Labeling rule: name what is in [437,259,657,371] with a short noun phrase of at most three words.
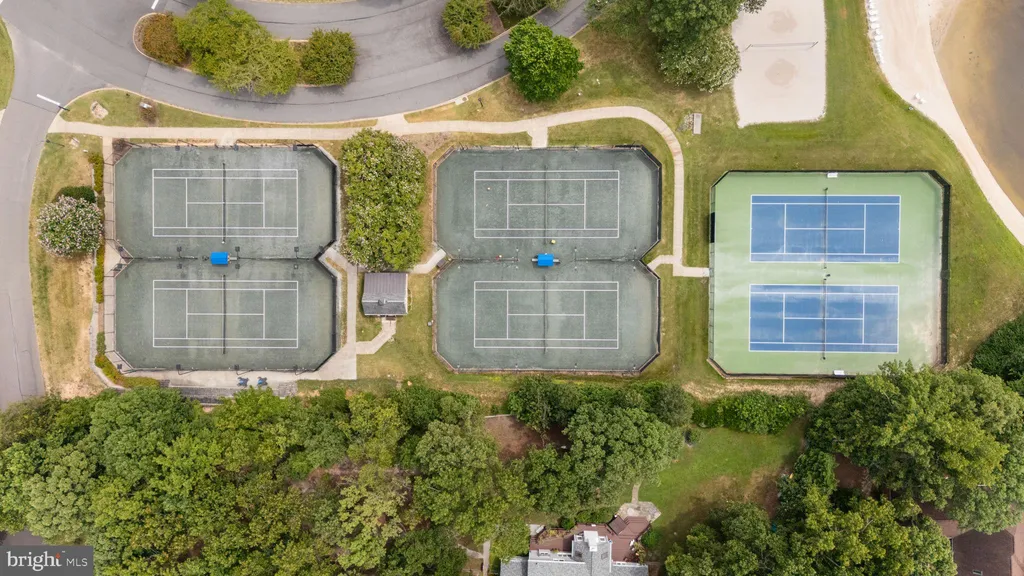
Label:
tennis court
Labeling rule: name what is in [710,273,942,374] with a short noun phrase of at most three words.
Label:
tennis court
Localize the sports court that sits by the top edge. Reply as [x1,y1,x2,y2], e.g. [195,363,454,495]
[732,0,827,127]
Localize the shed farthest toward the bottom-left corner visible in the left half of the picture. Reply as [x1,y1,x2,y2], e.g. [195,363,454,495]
[362,273,409,320]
